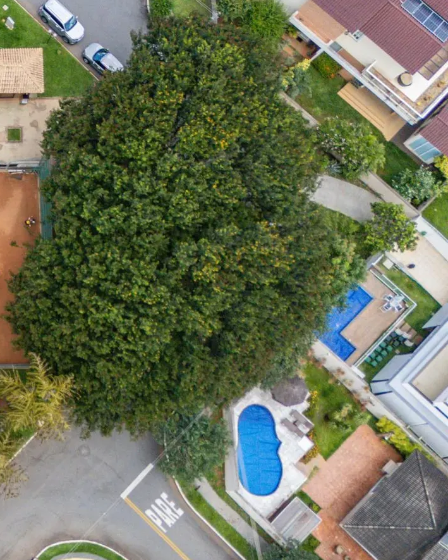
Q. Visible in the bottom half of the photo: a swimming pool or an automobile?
swimming pool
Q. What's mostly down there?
trees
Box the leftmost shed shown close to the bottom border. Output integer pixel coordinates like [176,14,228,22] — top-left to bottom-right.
[270,496,322,543]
